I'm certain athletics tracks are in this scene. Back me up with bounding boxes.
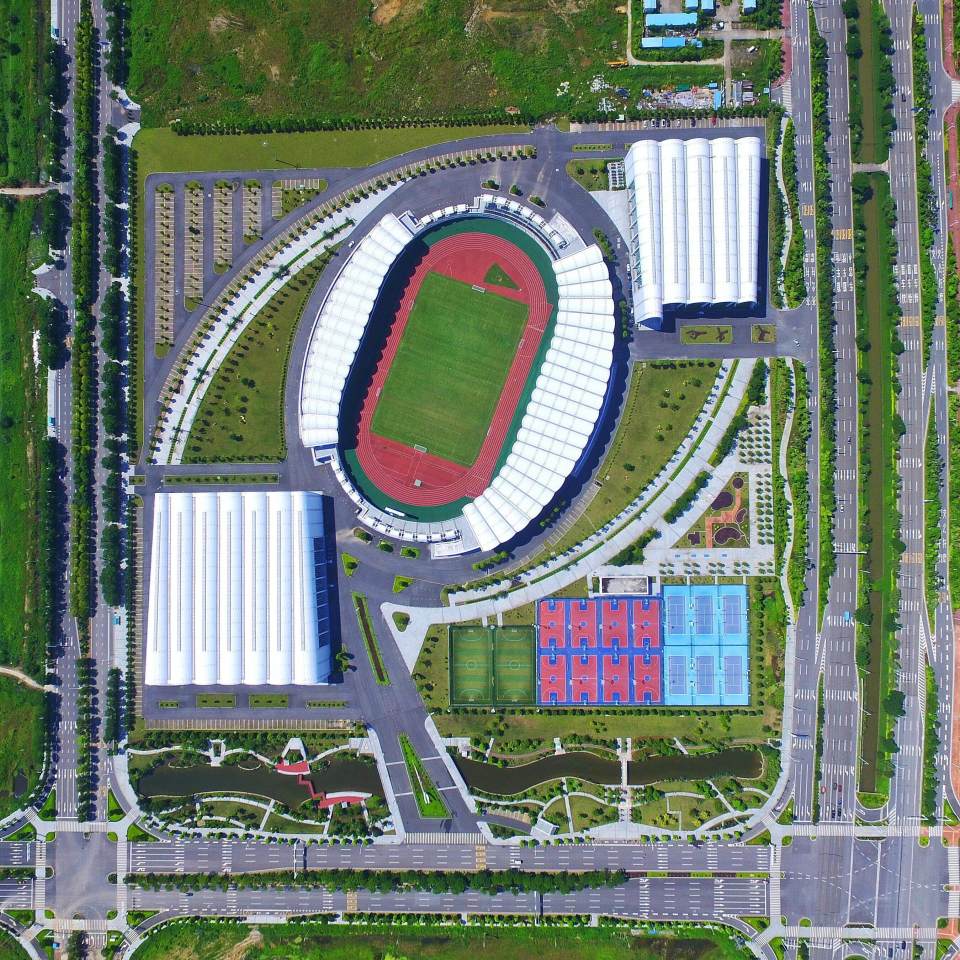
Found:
[352,231,556,507]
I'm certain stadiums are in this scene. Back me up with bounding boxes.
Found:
[294,190,618,558]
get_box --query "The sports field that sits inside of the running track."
[372,270,529,467]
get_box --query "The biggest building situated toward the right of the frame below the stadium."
[601,576,649,594]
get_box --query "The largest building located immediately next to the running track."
[144,492,334,684]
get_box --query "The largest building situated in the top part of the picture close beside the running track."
[623,142,762,332]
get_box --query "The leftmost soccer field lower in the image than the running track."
[450,626,493,706]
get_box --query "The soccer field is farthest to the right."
[493,626,536,706]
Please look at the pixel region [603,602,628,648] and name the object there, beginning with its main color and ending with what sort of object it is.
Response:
red basketball court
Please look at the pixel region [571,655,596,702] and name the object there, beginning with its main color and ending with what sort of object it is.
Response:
red basketball court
